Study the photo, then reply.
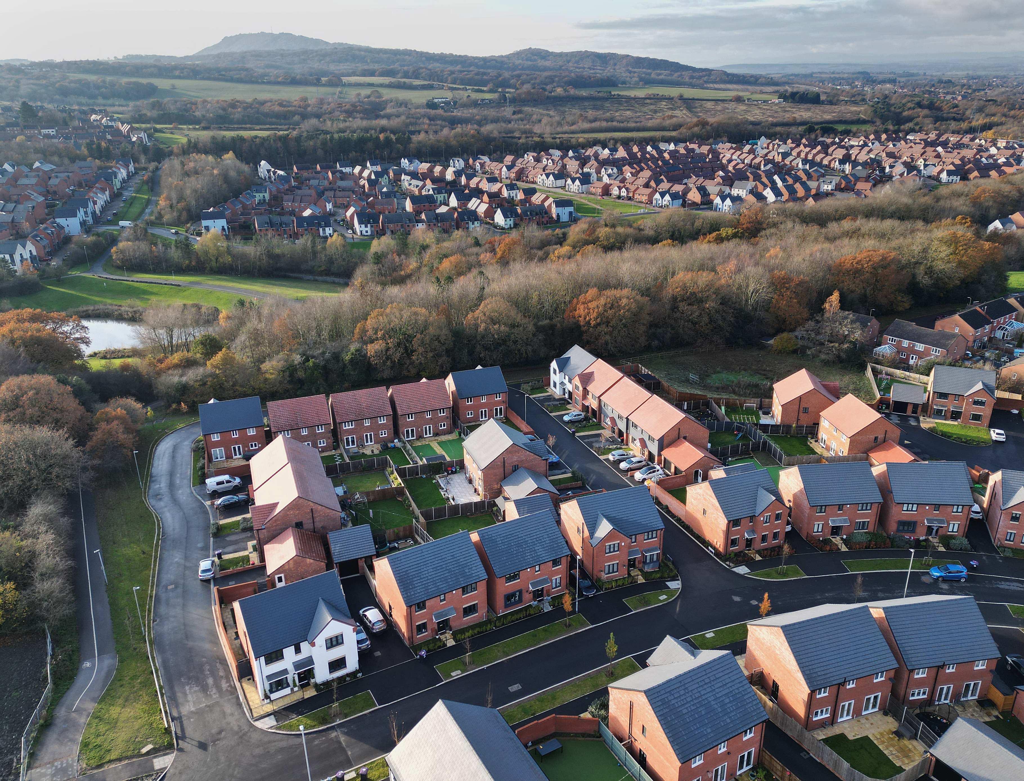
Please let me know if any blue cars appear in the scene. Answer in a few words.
Yes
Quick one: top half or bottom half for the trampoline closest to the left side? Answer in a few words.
bottom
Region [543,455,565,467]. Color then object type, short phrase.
blue vehicle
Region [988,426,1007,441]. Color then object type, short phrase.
white car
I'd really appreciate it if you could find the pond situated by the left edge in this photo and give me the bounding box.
[51,317,216,355]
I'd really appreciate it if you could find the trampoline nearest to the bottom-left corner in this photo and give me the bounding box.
[372,527,394,550]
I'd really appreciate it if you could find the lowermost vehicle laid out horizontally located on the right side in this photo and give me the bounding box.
[931,565,971,583]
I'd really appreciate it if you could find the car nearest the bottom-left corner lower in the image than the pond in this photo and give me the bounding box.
[198,557,215,579]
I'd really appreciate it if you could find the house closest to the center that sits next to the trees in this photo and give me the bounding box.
[445,361,508,424]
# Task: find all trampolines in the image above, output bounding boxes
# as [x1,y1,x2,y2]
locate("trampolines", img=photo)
[372,527,394,550]
[911,691,960,736]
